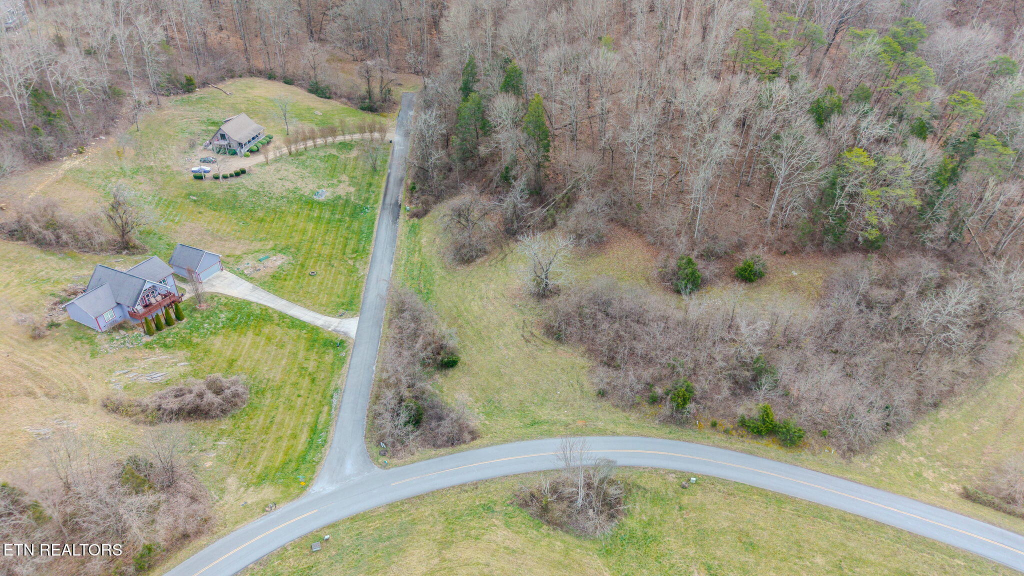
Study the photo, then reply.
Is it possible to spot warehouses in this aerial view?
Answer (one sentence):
No, the scene contains no warehouse.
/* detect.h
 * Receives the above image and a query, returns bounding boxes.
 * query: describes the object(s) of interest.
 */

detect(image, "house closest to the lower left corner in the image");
[62,256,187,332]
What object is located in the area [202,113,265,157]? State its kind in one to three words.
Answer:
house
